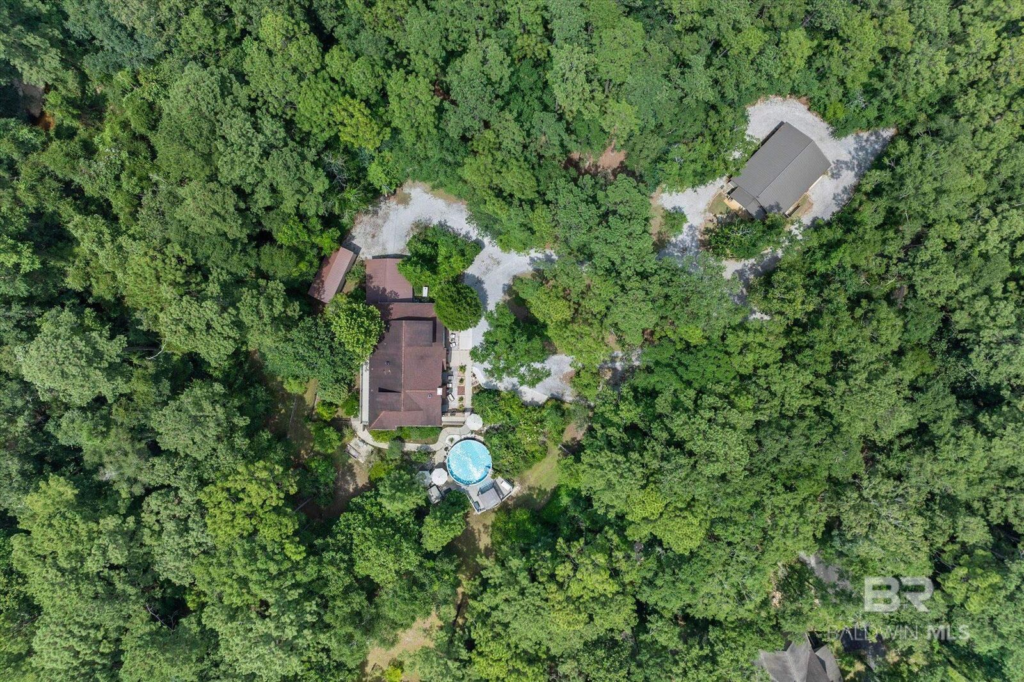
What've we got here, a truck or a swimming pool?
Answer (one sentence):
Of the two, only a swimming pool appears.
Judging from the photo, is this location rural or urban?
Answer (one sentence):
The land in this view is best described as rural.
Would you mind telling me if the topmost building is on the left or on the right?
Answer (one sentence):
The topmost building sits on the right side.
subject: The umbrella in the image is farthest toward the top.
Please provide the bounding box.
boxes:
[466,413,483,430]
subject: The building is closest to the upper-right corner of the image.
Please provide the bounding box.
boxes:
[723,122,831,220]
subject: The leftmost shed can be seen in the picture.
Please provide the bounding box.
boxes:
[308,245,354,301]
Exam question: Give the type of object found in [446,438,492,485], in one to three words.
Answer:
swimming pool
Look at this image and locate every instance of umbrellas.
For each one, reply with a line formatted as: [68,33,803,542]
[431,468,447,485]
[466,413,483,430]
[418,471,431,486]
